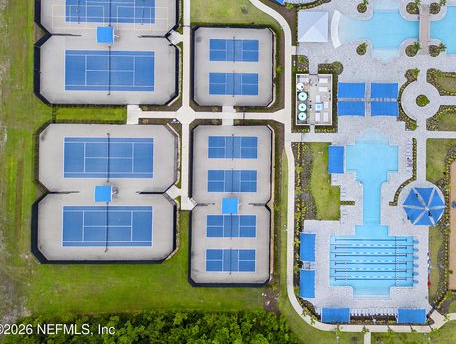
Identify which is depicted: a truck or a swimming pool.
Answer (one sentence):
There is a swimming pool in the scene.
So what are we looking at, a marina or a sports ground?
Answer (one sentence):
It's a sports ground.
